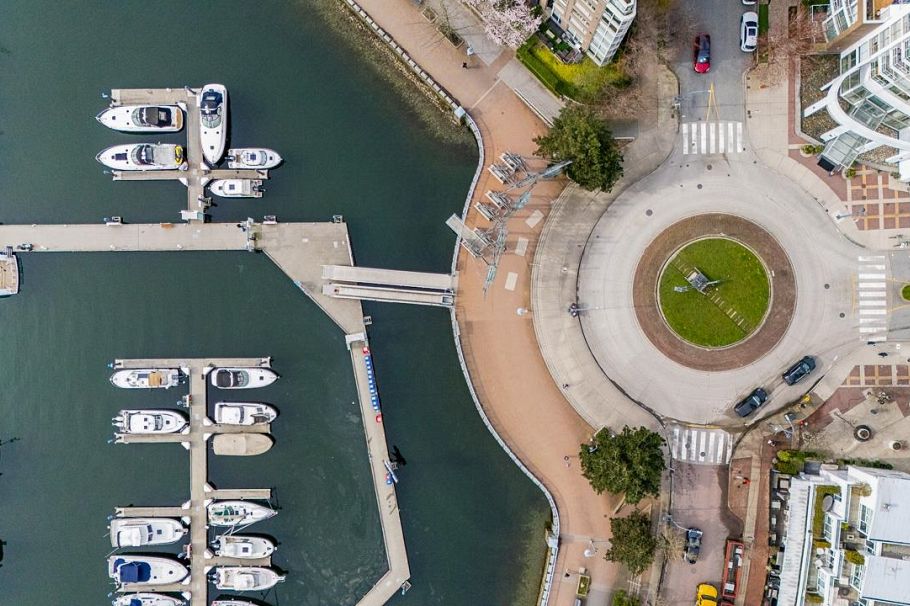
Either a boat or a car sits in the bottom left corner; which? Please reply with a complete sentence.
Looking in the bottom left corner, you will find a boat.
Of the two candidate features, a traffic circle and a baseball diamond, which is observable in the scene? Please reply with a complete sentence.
I can see a traffic circle in this picture.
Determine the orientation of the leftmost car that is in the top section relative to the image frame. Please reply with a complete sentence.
The leftmost car that is in the top section is laid out vertically.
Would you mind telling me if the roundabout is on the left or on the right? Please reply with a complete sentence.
The roundabout appears in the right half of the scene.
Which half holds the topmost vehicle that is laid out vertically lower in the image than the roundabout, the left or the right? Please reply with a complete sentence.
The topmost vehicle that is laid out vertically lower in the image than the roundabout sits on the right side.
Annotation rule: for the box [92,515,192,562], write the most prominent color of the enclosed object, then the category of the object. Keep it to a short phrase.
white boat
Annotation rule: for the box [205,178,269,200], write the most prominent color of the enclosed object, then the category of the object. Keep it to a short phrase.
white boat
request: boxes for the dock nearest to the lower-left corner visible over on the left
[108,358,275,606]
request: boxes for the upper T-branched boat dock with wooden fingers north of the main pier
[103,86,269,224]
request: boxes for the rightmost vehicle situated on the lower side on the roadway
[778,355,817,387]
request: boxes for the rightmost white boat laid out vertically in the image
[199,83,230,164]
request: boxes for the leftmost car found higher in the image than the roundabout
[693,33,713,75]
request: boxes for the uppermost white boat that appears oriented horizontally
[93,104,188,134]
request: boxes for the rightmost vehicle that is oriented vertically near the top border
[738,12,758,53]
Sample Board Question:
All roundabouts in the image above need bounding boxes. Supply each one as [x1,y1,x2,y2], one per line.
[632,211,798,372]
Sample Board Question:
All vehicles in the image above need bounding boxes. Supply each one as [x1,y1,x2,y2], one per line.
[739,0,756,5]
[693,33,713,75]
[718,538,746,606]
[682,525,703,565]
[738,12,758,53]
[730,386,770,419]
[697,584,717,606]
[778,355,817,387]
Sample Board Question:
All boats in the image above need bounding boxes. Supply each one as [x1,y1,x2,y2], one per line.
[199,83,230,164]
[92,515,192,562]
[94,142,188,172]
[210,533,278,562]
[211,432,274,457]
[205,178,269,200]
[172,146,179,167]
[106,367,185,389]
[93,104,188,134]
[215,400,277,427]
[212,366,278,390]
[113,590,182,606]
[114,407,192,435]
[209,498,279,531]
[106,551,191,586]
[211,564,286,594]
[0,243,25,295]
[253,414,274,426]
[222,147,283,171]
